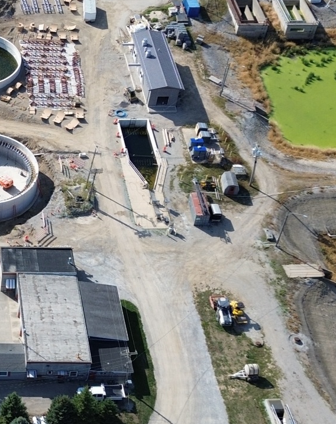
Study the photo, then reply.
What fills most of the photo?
paved ground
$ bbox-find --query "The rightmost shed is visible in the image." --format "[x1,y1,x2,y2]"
[215,169,241,201]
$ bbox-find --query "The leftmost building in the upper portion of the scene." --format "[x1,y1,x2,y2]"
[123,27,184,114]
